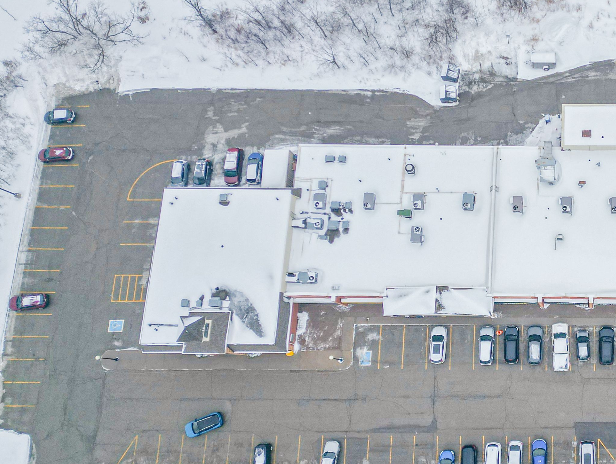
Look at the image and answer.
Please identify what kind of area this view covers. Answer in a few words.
parking lot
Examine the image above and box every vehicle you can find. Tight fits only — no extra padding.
[575,330,592,362]
[8,292,52,311]
[429,327,447,364]
[437,450,456,464]
[507,441,523,464]
[191,159,213,187]
[598,327,616,365]
[255,442,275,464]
[43,109,78,126]
[39,146,77,163]
[476,327,496,365]
[246,153,263,186]
[321,441,341,464]
[462,445,479,464]
[530,439,549,464]
[185,411,226,438]
[484,442,501,464]
[525,327,545,365]
[221,147,244,187]
[169,160,189,187]
[550,323,571,372]
[503,327,521,364]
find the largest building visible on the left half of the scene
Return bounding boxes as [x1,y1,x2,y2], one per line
[138,187,307,356]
